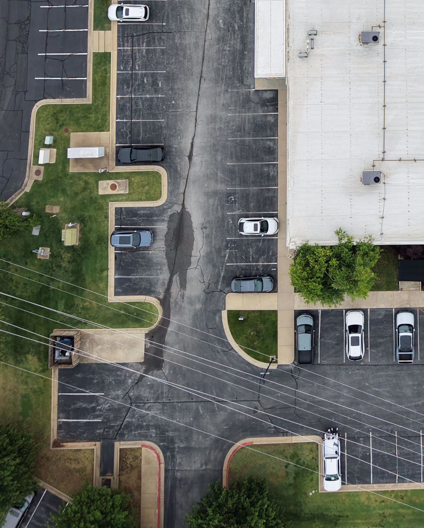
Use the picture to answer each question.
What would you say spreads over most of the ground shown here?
paved ground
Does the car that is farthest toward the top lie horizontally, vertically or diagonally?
horizontally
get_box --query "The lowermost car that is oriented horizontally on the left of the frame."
[110,229,155,250]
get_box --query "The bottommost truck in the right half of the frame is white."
[321,429,343,493]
